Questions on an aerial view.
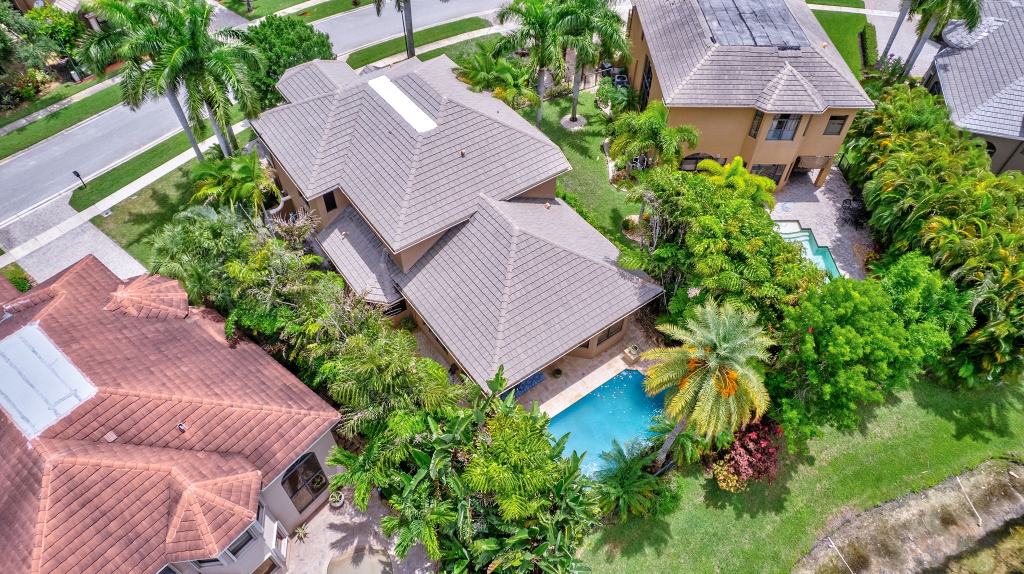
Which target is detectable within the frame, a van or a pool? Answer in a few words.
pool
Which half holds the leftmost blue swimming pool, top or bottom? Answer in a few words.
bottom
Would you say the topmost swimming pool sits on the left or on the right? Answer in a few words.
right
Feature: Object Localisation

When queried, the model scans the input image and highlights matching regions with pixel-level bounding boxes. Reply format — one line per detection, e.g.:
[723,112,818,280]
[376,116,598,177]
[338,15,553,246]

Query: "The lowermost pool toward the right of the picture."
[542,365,706,482]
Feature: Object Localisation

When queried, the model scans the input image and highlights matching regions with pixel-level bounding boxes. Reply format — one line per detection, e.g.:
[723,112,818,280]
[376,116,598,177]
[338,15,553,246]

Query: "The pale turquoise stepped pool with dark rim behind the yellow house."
[765,219,845,290]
